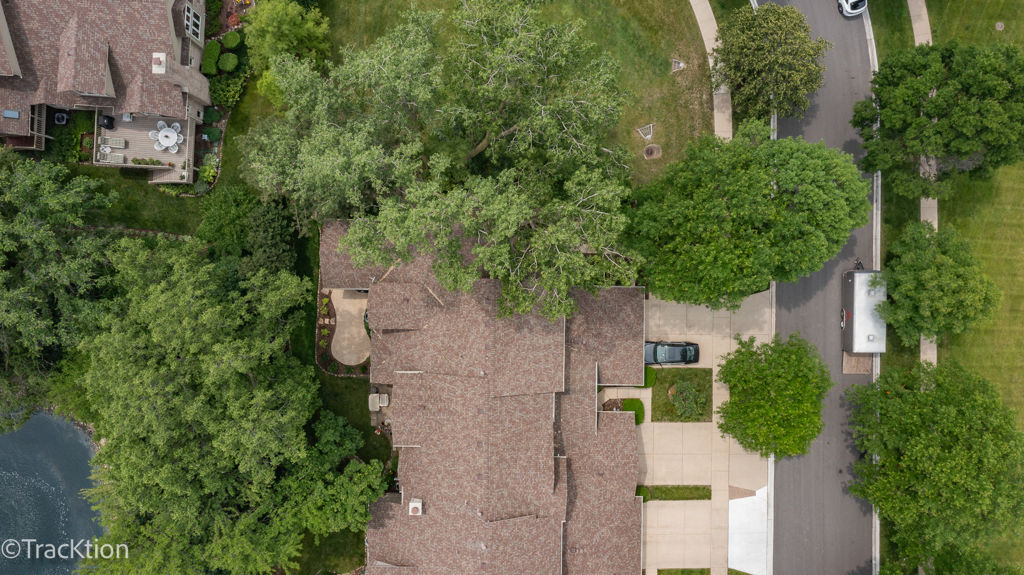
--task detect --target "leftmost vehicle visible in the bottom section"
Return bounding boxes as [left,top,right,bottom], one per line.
[646,339,699,368]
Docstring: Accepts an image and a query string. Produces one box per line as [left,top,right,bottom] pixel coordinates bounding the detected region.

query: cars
[646,339,699,368]
[834,0,867,16]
